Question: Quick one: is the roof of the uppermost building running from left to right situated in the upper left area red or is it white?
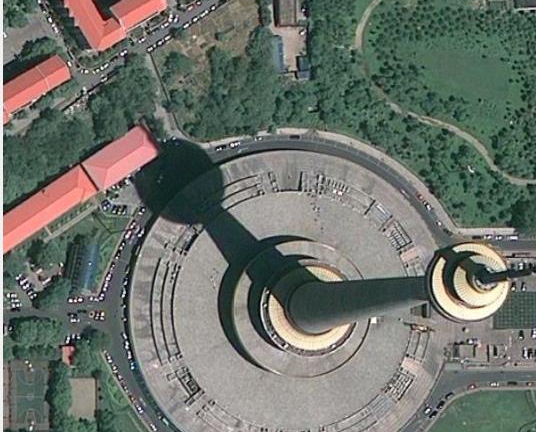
red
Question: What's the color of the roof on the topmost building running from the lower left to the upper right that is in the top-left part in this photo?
red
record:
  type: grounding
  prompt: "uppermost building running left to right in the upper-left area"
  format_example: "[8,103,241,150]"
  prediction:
[104,0,168,31]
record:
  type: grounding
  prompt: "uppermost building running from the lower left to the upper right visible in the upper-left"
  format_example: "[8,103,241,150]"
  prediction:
[0,54,71,118]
